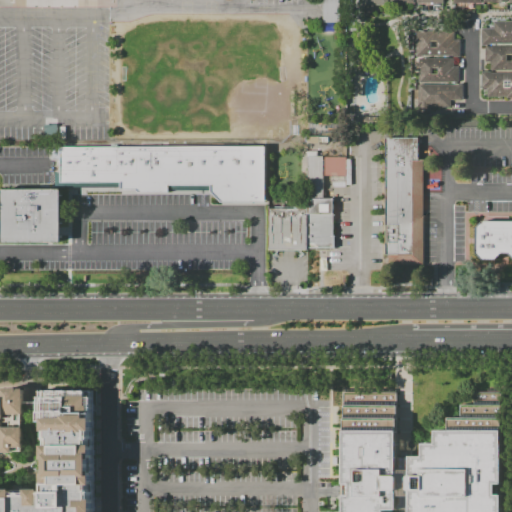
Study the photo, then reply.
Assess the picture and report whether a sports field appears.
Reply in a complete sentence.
Yes, the image includes a sports field.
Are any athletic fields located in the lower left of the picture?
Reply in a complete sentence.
No, there is no athletic field in the lower left of the picture.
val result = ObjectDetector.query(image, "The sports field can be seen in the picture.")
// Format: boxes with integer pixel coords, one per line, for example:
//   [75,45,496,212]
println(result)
[124,21,292,136]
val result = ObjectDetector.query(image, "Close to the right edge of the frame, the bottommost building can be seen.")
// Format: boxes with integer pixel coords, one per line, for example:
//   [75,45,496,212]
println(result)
[404,392,501,512]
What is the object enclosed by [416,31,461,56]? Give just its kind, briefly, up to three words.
house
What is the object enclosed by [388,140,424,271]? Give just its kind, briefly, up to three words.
building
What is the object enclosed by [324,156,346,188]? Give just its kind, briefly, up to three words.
building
